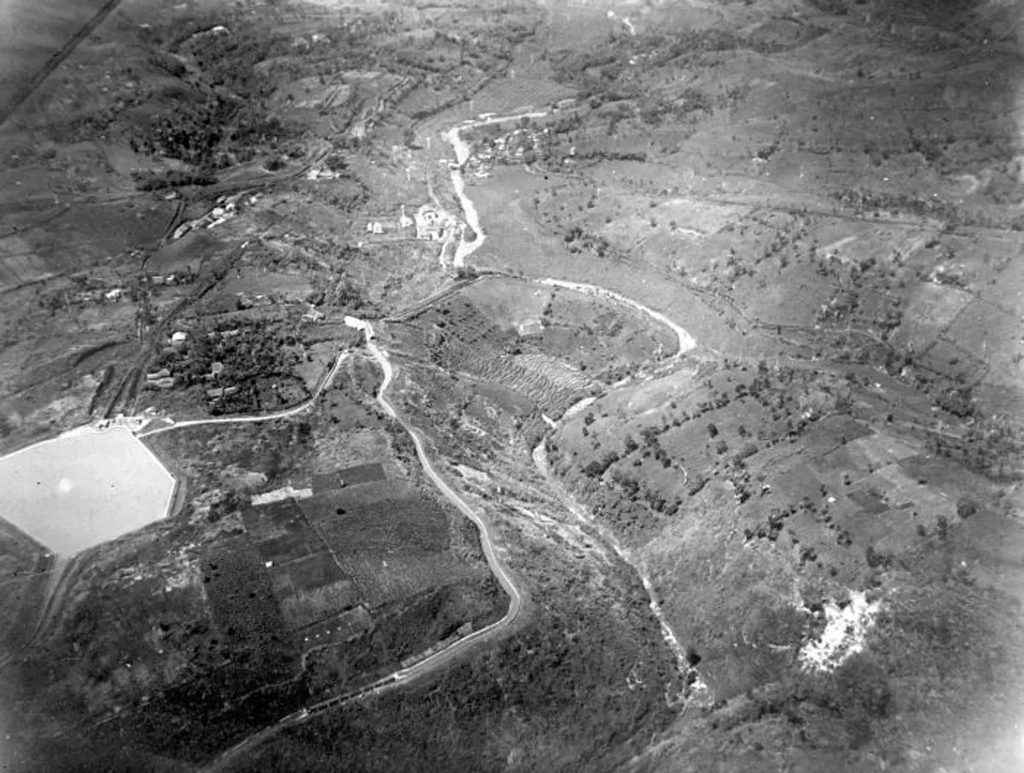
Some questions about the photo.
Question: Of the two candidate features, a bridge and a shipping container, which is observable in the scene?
bridge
